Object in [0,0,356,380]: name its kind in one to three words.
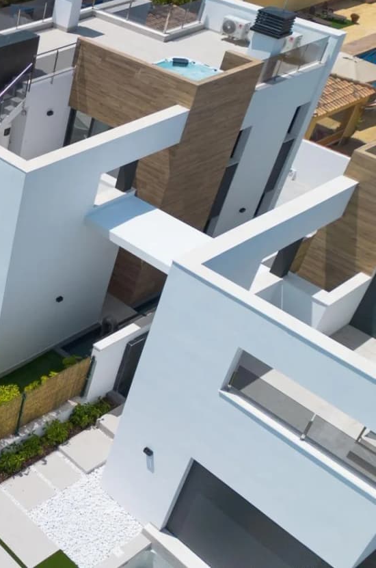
house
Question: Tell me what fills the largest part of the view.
buildings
